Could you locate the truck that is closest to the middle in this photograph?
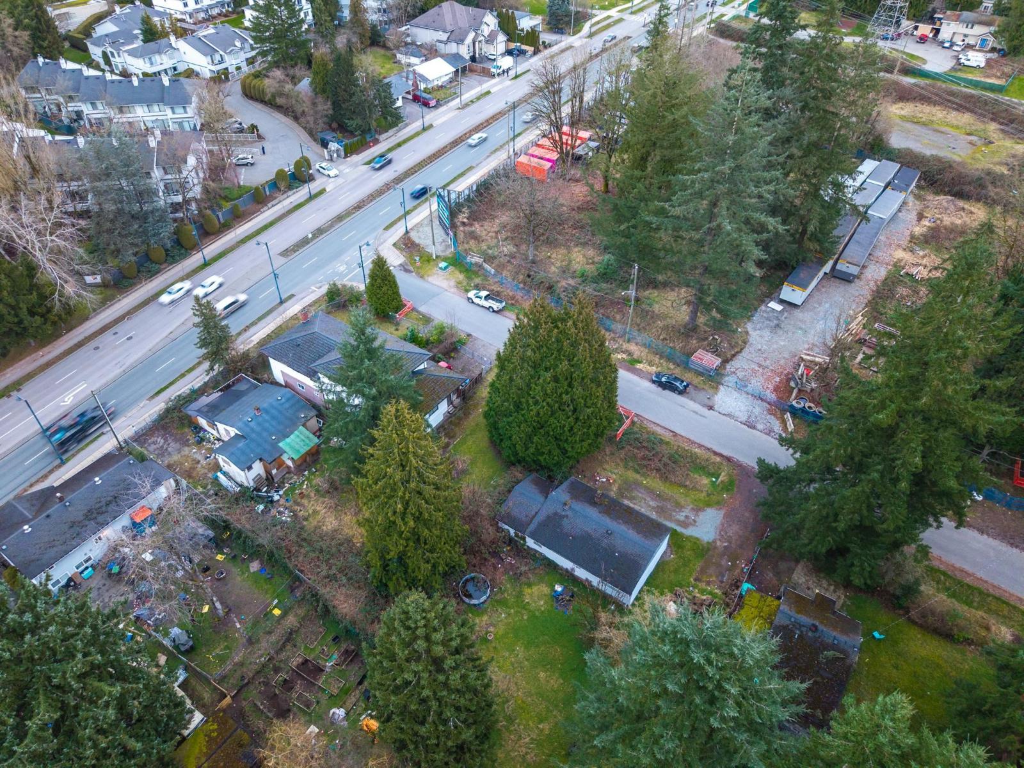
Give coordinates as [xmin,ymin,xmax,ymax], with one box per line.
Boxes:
[465,286,506,312]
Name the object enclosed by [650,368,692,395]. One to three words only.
car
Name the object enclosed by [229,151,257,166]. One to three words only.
car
